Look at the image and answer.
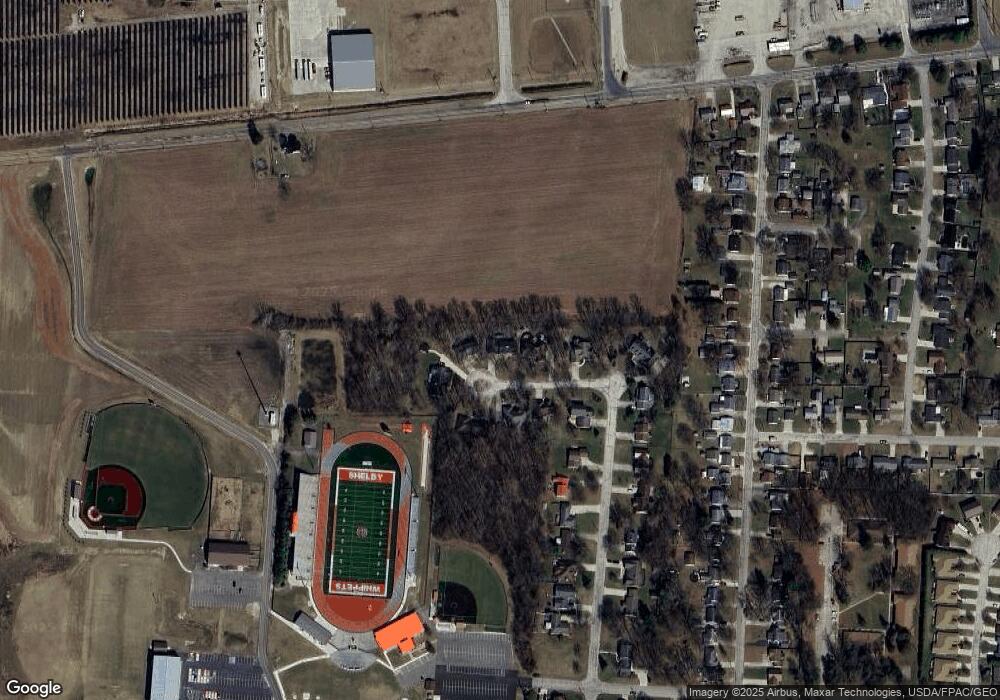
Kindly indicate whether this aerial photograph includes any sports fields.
Yes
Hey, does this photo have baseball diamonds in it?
Yes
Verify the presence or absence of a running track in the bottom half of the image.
Yes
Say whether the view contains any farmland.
Yes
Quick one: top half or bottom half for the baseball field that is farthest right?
bottom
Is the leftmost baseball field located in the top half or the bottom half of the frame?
bottom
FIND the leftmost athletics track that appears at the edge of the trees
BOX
[312,429,411,633]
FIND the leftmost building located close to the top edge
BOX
[332,33,375,92]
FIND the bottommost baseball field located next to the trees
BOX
[439,547,506,632]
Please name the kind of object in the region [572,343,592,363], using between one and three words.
house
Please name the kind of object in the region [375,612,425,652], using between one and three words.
building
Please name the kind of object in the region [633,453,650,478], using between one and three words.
house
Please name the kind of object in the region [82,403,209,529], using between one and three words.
baseball field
